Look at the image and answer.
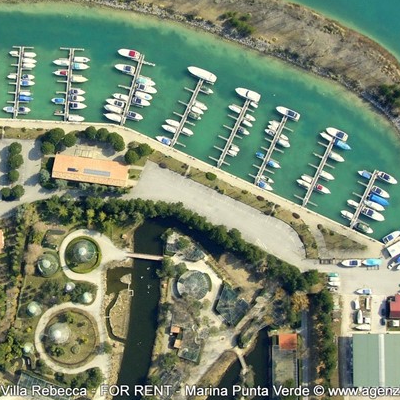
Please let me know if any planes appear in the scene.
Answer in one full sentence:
No, I find no plane anywhere in the image.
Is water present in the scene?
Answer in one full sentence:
Yes, there is water in the image.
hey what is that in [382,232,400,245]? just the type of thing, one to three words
boat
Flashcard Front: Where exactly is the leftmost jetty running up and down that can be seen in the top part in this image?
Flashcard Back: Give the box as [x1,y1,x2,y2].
[8,46,34,119]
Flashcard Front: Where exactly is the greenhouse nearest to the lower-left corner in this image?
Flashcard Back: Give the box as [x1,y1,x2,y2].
[18,372,72,400]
